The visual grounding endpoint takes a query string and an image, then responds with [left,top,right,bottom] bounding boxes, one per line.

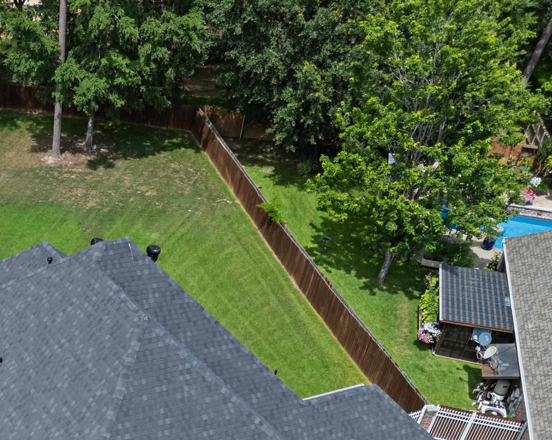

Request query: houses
[501,224,552,440]
[0,235,440,440]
